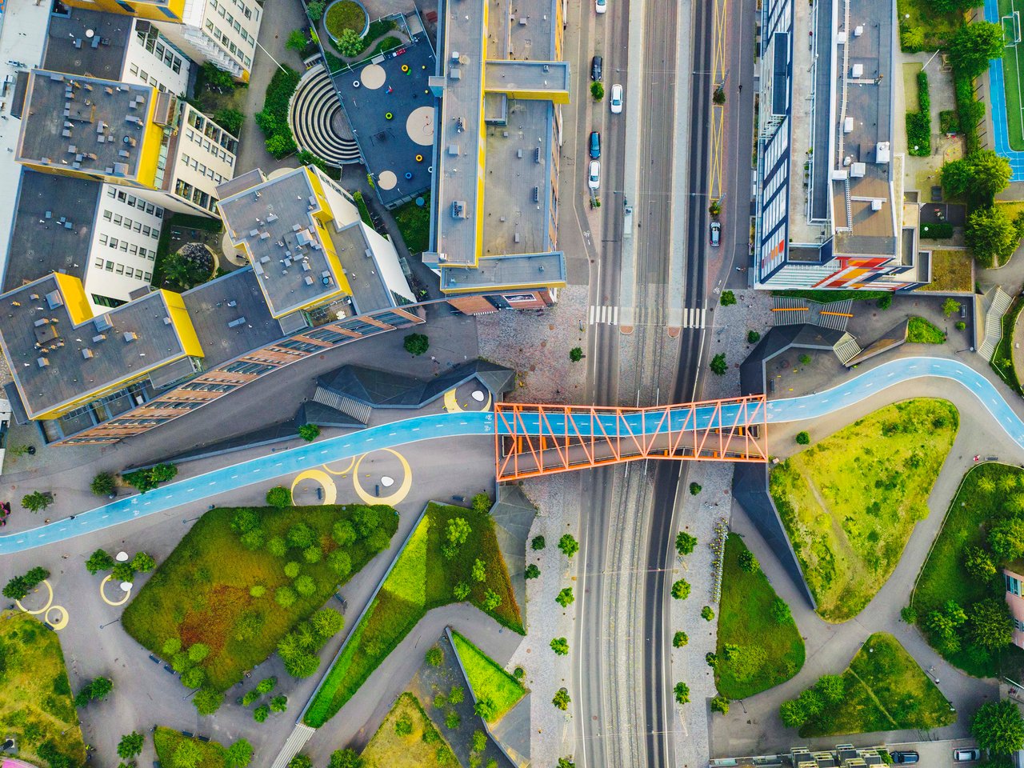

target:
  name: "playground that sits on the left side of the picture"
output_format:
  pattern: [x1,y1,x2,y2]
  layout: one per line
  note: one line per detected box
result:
[333,35,434,209]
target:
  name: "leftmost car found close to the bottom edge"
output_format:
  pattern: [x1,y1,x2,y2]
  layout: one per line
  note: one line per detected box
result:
[887,748,922,766]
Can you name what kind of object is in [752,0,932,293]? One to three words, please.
building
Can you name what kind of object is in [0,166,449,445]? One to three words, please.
building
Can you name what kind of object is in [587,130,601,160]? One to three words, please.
car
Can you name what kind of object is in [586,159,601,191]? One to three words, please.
car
